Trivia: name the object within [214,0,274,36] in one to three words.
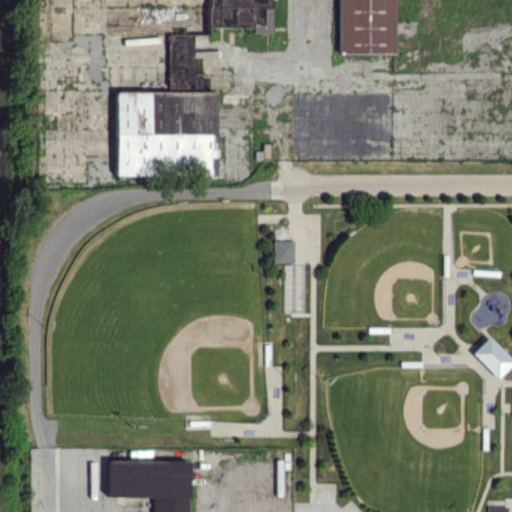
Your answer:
building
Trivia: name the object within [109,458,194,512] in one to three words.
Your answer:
building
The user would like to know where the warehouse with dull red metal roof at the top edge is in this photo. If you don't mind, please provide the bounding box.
[340,0,398,57]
